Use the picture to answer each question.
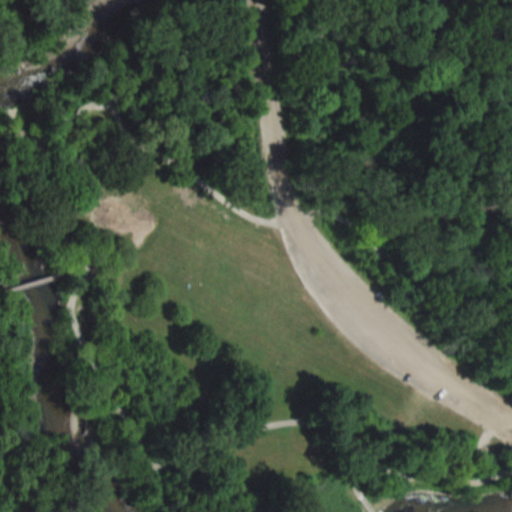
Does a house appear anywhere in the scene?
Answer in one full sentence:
No, the scene contains no house.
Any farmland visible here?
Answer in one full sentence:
No, the picture contains no farmland.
